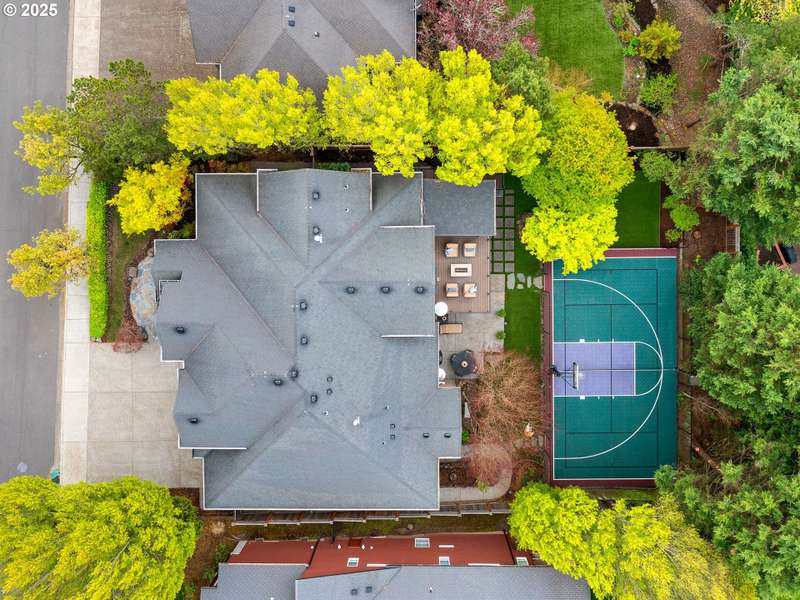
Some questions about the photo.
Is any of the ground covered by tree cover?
Yes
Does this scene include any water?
No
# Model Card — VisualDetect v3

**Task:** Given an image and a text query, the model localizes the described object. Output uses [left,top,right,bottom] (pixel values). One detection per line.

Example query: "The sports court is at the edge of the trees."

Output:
[544,248,677,488]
